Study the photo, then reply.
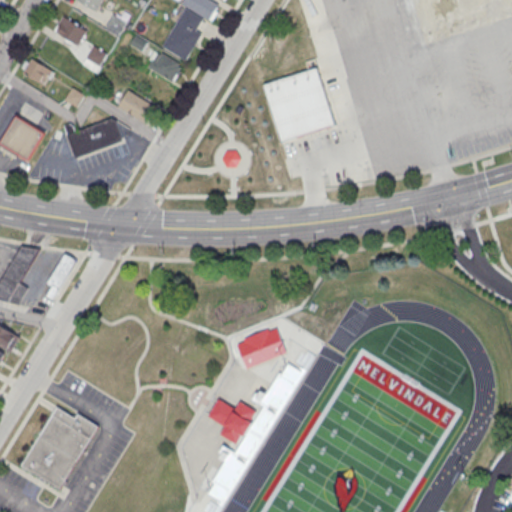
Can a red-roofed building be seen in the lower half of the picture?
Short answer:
Yes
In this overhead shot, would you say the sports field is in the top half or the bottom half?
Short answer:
bottom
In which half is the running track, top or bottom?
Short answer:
bottom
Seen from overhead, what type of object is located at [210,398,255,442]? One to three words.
building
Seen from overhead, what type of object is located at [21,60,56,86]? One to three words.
house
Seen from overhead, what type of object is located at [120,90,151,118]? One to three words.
house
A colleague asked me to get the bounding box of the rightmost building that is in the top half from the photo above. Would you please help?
[264,68,335,141]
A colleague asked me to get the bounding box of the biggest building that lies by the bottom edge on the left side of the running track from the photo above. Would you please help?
[22,408,100,490]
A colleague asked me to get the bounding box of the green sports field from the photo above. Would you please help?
[249,322,474,512]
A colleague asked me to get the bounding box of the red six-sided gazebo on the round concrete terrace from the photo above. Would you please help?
[223,150,242,166]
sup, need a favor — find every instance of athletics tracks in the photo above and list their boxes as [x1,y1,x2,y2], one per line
[224,300,496,512]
